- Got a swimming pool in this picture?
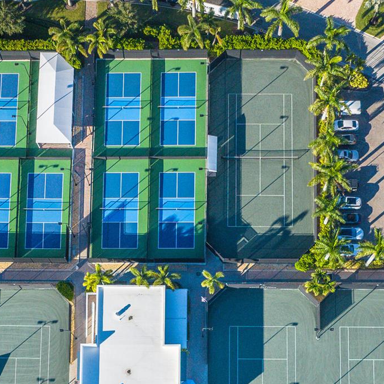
No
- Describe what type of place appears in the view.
sports ground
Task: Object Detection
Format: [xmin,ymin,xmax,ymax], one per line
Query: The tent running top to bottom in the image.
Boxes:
[37,53,76,149]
